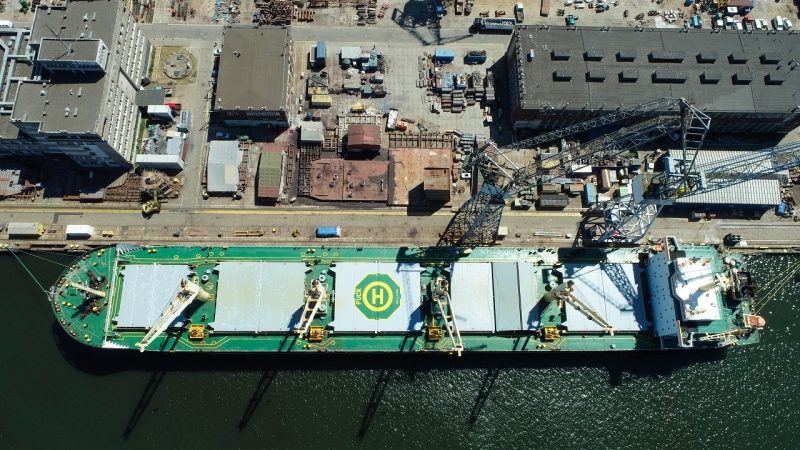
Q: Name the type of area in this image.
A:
port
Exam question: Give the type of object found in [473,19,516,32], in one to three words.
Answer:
vehicle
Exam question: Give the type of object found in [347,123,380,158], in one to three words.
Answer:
shed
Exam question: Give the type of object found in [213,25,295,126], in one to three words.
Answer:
building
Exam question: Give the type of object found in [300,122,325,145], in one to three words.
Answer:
shed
